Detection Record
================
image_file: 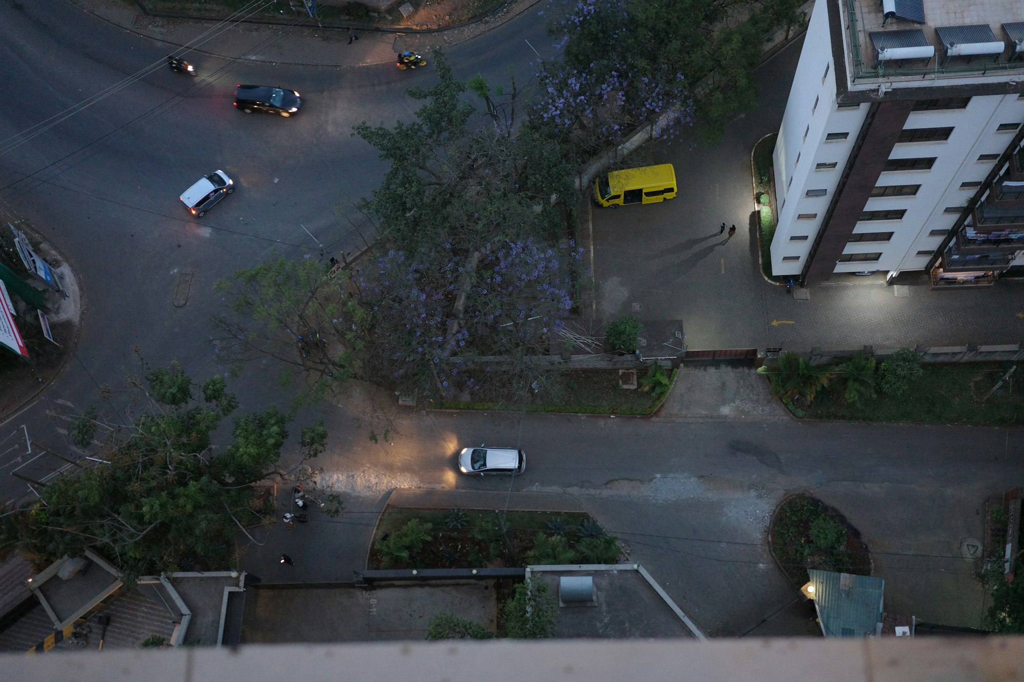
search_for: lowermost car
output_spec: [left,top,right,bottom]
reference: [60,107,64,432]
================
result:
[458,440,529,478]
